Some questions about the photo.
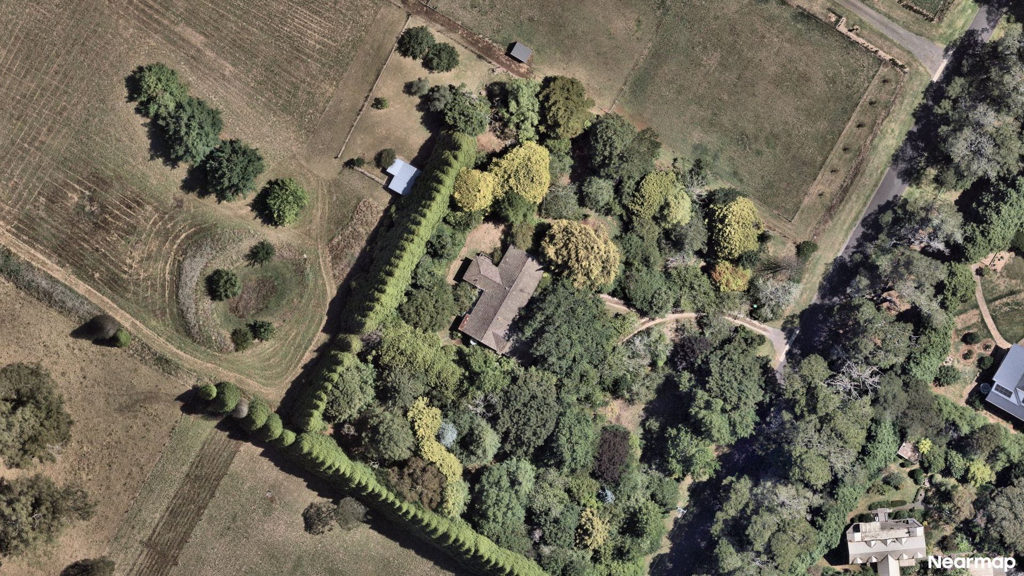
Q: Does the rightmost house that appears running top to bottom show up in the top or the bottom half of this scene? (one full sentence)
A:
The rightmost house that appears running top to bottom is in the bottom half of the image.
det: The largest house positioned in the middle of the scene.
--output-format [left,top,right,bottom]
[461,245,544,357]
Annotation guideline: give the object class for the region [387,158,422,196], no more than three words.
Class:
shed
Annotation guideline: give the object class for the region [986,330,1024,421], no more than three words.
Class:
house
